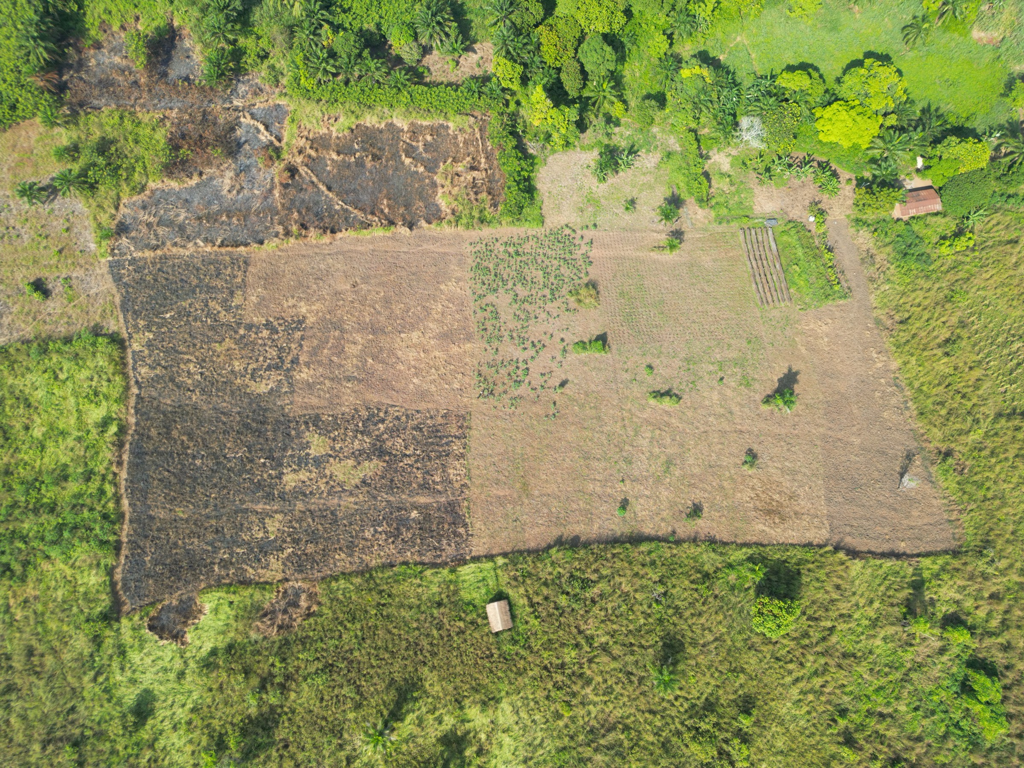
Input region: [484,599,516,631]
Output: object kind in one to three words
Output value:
shed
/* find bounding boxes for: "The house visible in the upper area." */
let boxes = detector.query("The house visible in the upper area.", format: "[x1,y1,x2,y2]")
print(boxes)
[894,189,942,219]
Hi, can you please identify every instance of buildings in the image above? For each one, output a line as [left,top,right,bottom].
[484,599,516,631]
[894,189,942,219]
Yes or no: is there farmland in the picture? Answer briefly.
Yes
